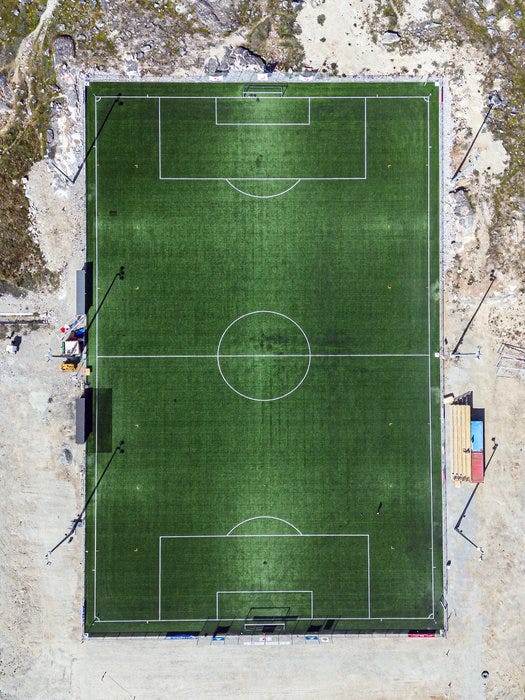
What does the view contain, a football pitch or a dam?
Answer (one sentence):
I can see a football pitch in this picture.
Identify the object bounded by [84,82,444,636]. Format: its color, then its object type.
green soccer field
